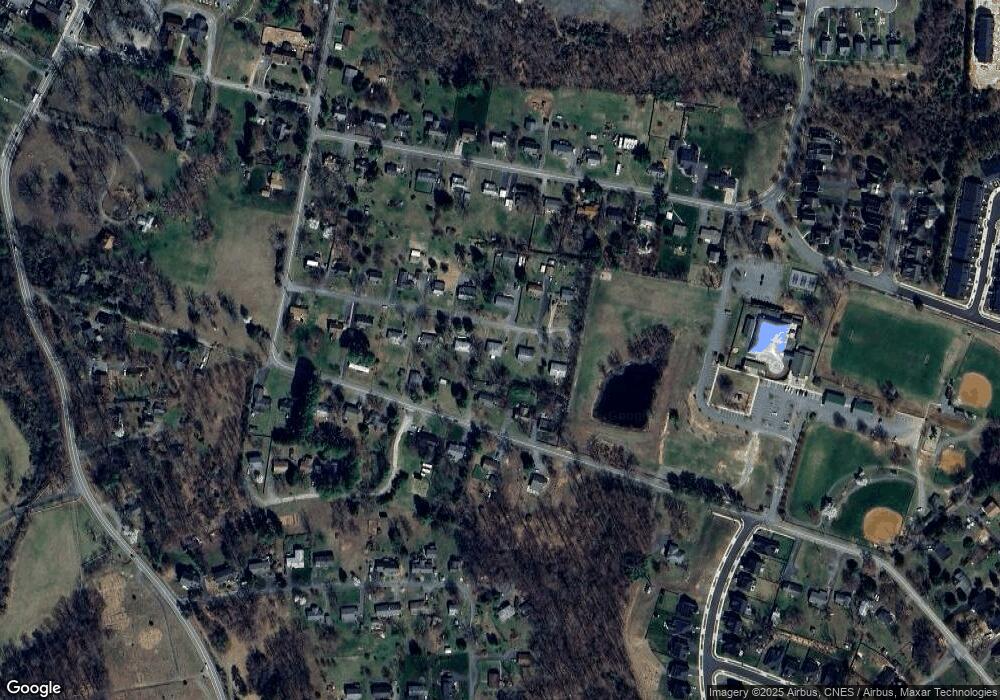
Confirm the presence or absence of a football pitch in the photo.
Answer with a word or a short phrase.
Yes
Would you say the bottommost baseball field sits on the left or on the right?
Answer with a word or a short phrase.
right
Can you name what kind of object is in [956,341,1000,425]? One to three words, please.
baseball field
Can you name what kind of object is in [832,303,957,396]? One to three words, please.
soccer field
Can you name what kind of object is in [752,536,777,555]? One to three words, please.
house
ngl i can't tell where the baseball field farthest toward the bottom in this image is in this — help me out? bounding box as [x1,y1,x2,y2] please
[834,480,913,550]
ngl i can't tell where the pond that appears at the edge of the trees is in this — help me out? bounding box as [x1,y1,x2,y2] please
[594,365,662,429]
